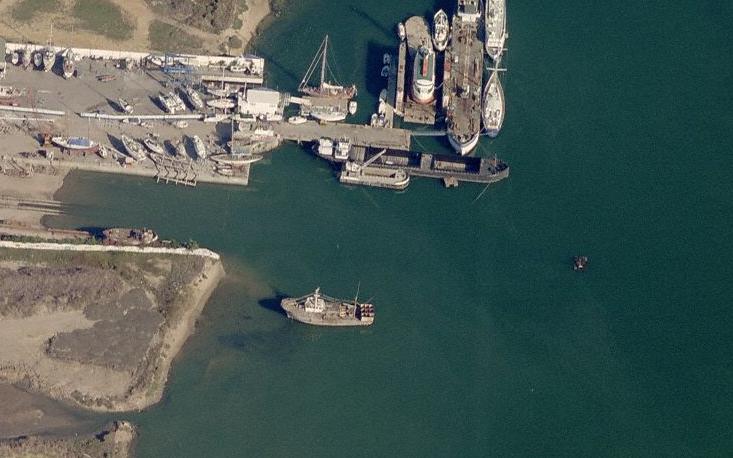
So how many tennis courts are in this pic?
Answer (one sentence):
The picture shows no tennis courts.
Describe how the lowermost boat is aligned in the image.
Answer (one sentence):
In this picture, the lowermost boat is oriented from left to right.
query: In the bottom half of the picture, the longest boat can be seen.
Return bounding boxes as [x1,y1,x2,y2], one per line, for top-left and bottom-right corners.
[283,278,374,324]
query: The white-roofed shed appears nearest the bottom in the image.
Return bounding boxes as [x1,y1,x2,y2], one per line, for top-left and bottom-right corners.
[238,89,280,118]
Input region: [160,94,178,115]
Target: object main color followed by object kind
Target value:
white boat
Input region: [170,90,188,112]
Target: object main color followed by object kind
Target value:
white boat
